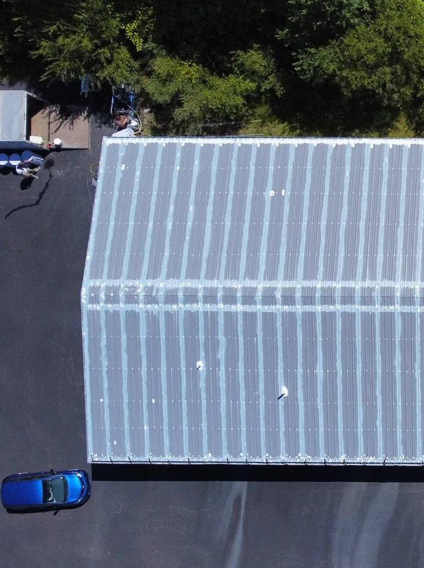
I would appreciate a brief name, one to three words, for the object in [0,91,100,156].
trailer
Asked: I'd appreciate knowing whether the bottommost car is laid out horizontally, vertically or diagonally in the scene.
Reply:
horizontally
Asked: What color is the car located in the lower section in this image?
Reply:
blue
